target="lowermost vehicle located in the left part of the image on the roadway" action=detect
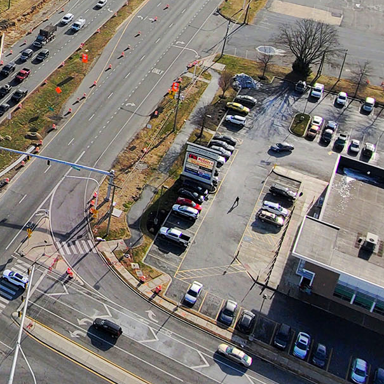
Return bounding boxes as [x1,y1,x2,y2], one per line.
[91,317,125,340]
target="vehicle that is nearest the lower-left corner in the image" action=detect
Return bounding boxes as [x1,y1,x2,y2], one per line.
[1,271,30,290]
